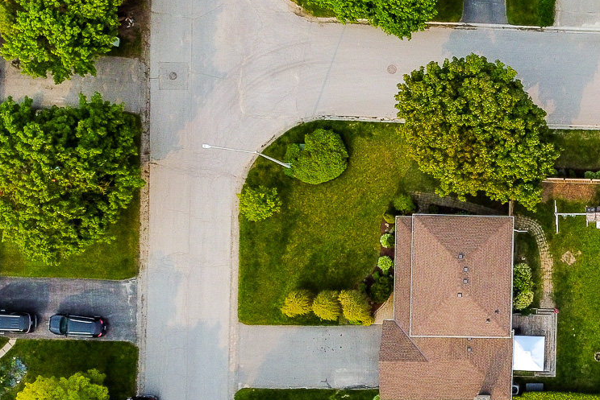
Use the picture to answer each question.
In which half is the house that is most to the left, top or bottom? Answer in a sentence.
The bottom half of the photo is where the house that is most to the left is.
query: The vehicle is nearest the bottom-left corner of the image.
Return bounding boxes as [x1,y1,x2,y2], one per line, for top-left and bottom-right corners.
[0,312,38,335]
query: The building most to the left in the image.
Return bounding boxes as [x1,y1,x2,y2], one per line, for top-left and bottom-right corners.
[379,214,530,400]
